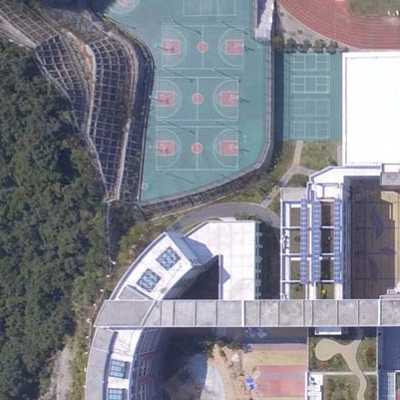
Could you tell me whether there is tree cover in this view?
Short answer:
Yes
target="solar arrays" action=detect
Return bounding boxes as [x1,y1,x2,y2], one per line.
[335,199,340,283]
[312,201,320,282]
[301,199,308,284]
